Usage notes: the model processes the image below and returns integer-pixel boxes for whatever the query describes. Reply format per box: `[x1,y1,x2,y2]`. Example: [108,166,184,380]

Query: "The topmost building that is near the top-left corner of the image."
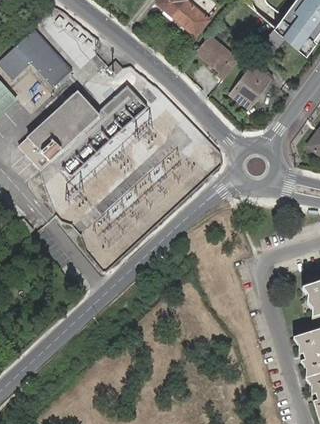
[0,30,72,89]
